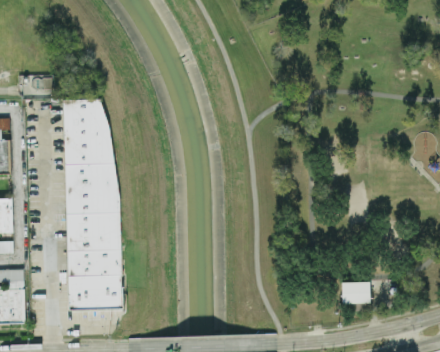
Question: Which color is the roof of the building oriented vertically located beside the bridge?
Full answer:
The roof of the building oriented vertically located beside the bridge is white.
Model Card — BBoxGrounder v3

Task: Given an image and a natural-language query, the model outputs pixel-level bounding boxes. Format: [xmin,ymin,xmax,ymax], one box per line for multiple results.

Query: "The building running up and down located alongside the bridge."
[63,100,124,310]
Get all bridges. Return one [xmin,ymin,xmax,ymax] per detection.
[130,334,278,352]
